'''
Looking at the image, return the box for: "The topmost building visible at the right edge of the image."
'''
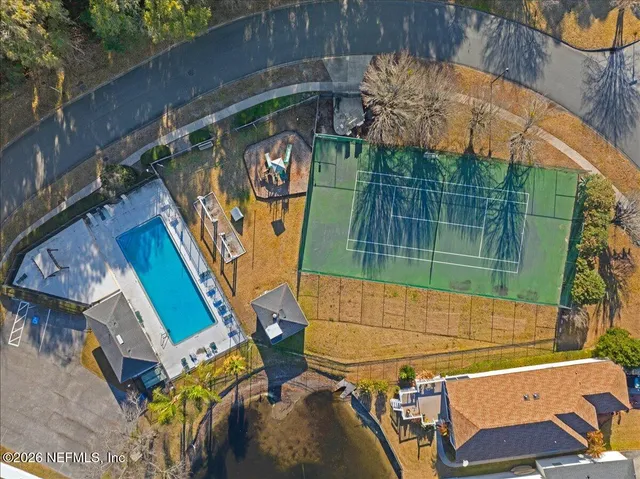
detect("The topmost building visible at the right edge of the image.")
[444,358,629,464]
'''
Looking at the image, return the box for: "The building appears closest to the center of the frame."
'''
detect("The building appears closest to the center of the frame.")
[251,283,309,345]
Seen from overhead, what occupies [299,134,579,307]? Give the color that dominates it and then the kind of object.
green tennis court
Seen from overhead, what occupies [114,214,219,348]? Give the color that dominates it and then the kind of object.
blue swimming pool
